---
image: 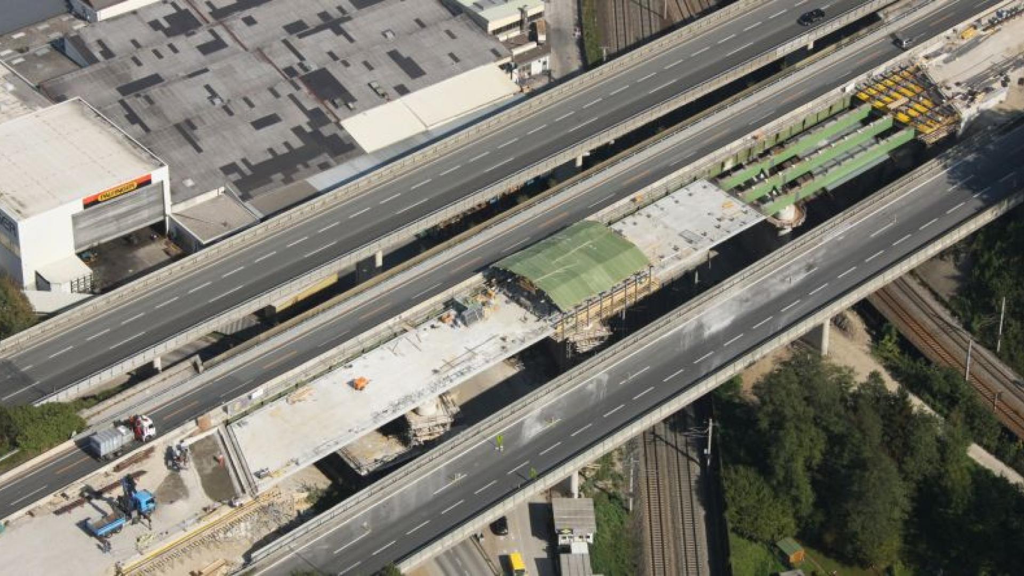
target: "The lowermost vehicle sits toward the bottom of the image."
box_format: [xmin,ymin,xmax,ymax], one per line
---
[508,550,530,576]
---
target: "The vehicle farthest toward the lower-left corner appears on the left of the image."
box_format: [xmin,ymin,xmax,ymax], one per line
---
[87,472,156,537]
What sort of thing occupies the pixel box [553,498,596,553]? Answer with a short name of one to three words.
house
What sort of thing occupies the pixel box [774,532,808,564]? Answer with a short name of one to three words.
shed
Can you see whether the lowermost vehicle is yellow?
Yes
